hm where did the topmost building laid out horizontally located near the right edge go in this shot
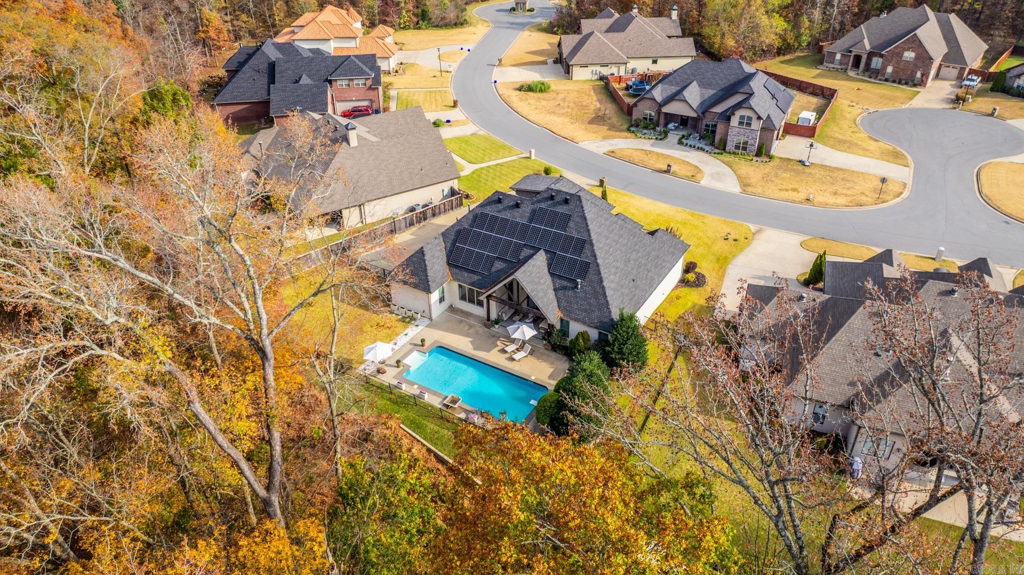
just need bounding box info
[824,4,991,87]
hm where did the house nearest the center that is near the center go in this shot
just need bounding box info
[389,159,689,357]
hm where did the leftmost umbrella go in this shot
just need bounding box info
[353,329,392,364]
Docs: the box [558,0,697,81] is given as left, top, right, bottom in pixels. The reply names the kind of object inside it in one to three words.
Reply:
house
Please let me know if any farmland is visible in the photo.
No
